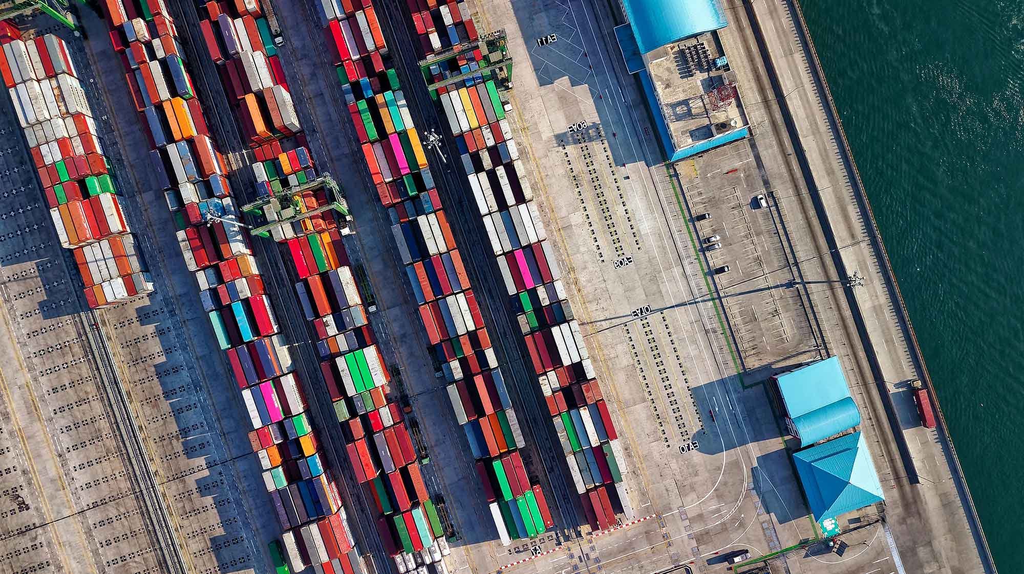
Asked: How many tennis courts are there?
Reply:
0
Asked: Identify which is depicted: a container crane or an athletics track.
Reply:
container crane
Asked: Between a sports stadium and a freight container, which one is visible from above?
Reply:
freight container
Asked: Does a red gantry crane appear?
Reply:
No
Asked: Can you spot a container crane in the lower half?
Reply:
No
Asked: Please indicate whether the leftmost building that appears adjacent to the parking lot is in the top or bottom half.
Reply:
top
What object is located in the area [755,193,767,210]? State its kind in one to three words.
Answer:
vehicle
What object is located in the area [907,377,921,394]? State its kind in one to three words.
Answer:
vehicle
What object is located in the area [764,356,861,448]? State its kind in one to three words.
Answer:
building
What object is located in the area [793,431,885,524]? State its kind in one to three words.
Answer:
building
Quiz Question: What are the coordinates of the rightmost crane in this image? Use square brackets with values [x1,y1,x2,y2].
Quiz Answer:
[414,25,517,116]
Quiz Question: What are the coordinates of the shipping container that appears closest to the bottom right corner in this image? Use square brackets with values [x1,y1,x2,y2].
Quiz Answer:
[912,388,938,429]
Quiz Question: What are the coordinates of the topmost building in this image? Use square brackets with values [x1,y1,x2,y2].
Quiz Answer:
[613,0,751,167]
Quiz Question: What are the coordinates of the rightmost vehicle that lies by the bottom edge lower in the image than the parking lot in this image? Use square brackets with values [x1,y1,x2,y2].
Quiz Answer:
[730,550,749,566]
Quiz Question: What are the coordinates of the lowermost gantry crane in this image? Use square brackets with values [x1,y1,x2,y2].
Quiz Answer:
[237,175,352,248]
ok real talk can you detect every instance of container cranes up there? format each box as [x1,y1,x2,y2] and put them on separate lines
[414,25,517,116]
[237,175,352,248]
[0,0,86,40]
